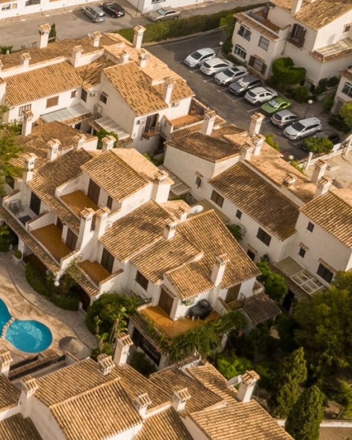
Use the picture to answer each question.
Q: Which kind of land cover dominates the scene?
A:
buildings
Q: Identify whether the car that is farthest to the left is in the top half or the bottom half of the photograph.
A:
top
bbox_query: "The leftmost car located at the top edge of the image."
[76,3,114,25]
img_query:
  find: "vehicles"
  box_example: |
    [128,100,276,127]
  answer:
[264,108,305,131]
[255,94,299,116]
[280,114,327,143]
[241,86,281,108]
[96,0,134,21]
[225,71,268,98]
[210,60,254,86]
[181,46,218,69]
[76,3,114,25]
[196,54,235,78]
